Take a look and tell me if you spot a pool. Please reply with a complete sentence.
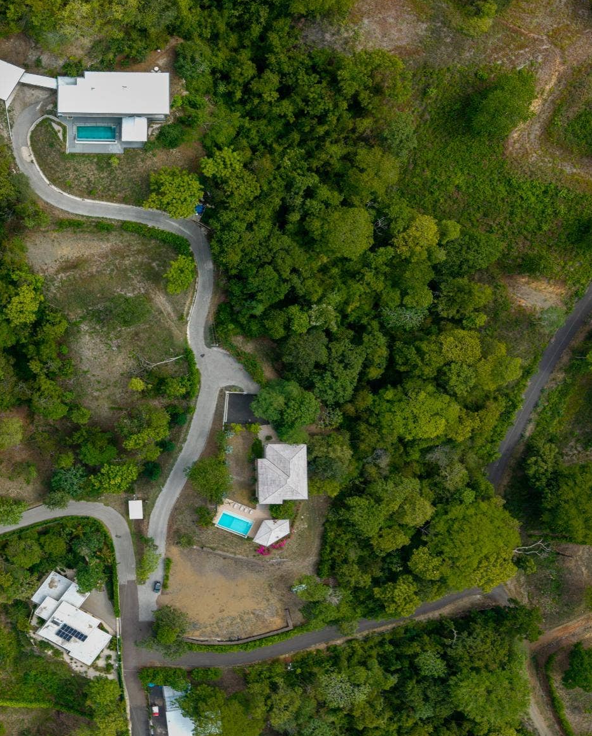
Yes, there's a pool down there.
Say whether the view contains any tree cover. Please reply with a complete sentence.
Yes, there's tree cover in this view.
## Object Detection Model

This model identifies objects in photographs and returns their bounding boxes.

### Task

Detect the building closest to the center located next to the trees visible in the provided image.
[254,443,308,504]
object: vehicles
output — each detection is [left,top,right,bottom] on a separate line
[153,706,160,717]
[154,581,160,594]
